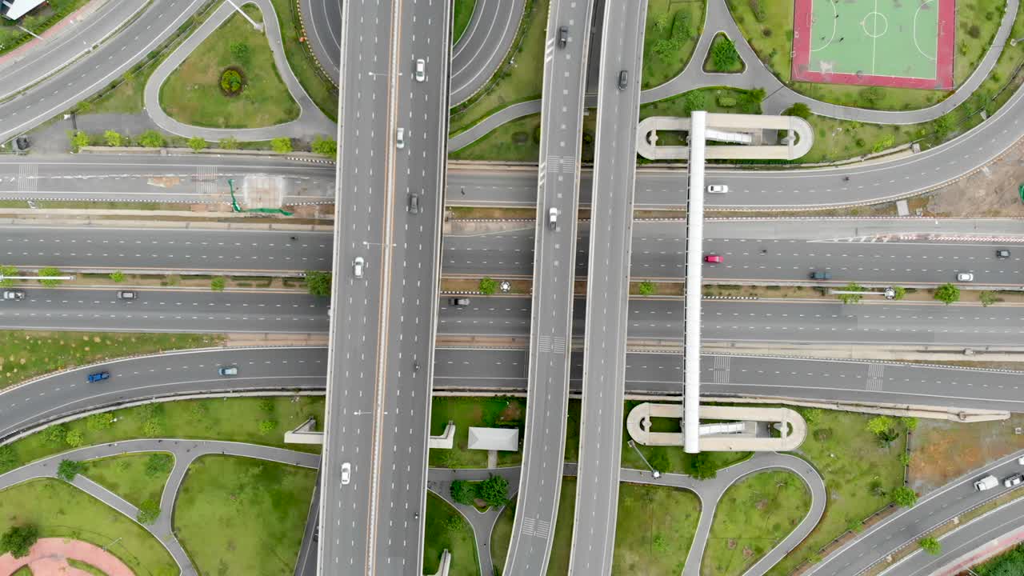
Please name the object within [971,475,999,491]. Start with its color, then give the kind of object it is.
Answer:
white vehicle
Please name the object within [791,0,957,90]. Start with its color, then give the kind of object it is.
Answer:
green sports court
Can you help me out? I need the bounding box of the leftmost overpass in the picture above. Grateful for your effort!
[285,0,459,576]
